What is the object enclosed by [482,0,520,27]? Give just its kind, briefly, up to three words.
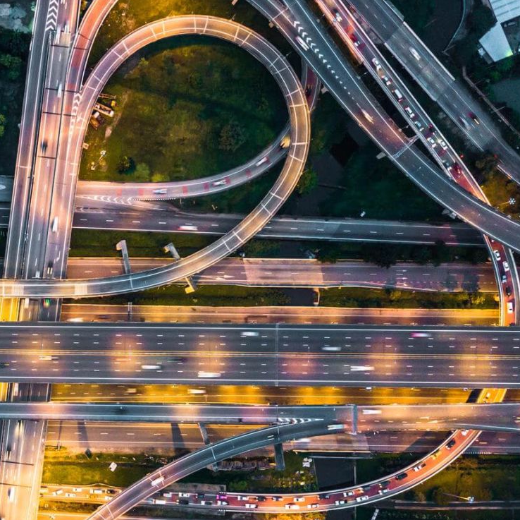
building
